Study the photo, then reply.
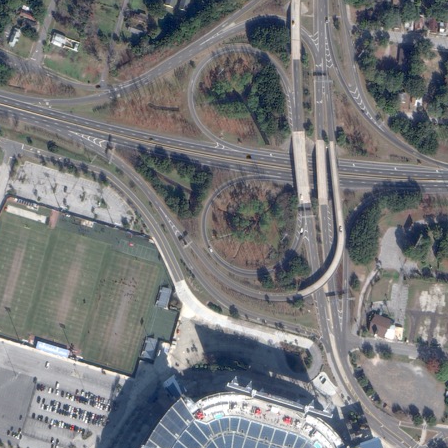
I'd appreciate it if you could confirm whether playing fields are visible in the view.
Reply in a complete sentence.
Yes, this view includes a playing field.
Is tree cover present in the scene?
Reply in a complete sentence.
Yes, there's tree cover in this view.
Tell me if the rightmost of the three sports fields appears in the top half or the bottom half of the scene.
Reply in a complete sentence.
You can find the rightmost of the three sports fields in the bottom half.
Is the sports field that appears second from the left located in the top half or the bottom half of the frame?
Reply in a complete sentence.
It is in the bottom half that the sports field that appears second from the left appears.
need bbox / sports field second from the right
[26,237,102,351]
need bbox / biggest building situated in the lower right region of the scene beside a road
[369,315,395,339]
